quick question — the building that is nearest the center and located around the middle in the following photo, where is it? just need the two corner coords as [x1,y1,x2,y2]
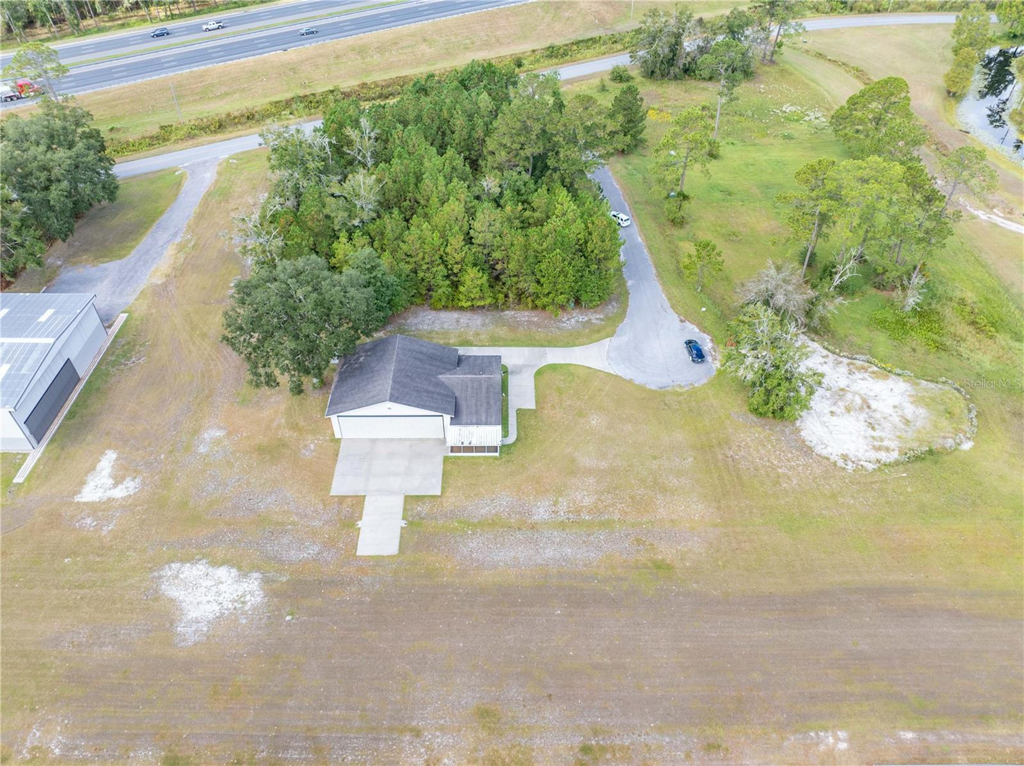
[325,332,503,456]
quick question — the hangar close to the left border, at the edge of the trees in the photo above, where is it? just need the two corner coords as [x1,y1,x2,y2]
[0,294,111,454]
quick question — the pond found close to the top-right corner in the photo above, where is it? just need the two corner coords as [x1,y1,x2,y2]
[953,41,1024,173]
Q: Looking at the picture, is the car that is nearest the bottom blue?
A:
Yes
